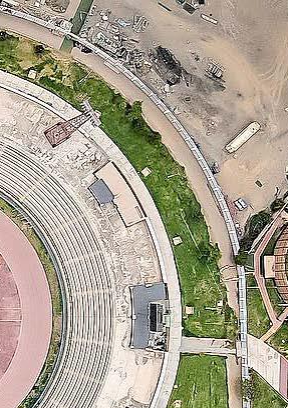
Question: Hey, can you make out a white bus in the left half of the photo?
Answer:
No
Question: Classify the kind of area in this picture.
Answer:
sports ground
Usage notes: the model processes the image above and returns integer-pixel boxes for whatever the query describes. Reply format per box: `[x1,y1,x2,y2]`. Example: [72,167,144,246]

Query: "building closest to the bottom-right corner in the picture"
[260,256,275,277]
